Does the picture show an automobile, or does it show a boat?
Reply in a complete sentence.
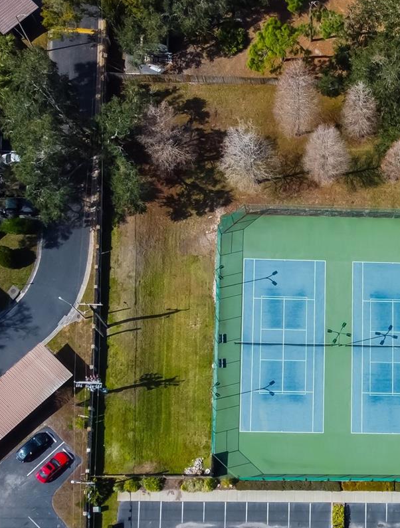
Visible in the photo is an automobile.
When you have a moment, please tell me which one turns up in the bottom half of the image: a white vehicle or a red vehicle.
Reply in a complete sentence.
What appears in the bottom half of the image is a red vehicle.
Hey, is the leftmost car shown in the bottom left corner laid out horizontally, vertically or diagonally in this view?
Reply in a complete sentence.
In this picture, the leftmost car shown in the bottom left corner lies diagonally.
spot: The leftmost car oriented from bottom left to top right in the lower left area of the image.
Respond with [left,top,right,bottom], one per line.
[16,429,53,461]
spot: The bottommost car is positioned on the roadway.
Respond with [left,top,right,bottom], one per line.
[37,451,73,481]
